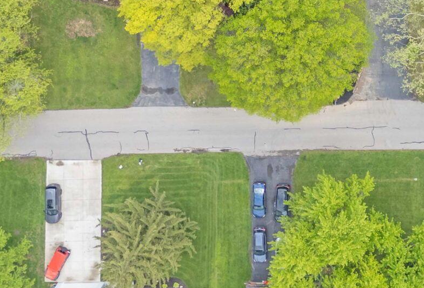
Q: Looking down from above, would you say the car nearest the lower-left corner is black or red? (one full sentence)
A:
The car nearest the lower-left corner looks red in the image.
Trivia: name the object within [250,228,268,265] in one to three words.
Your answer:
car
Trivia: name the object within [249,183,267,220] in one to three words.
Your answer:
car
